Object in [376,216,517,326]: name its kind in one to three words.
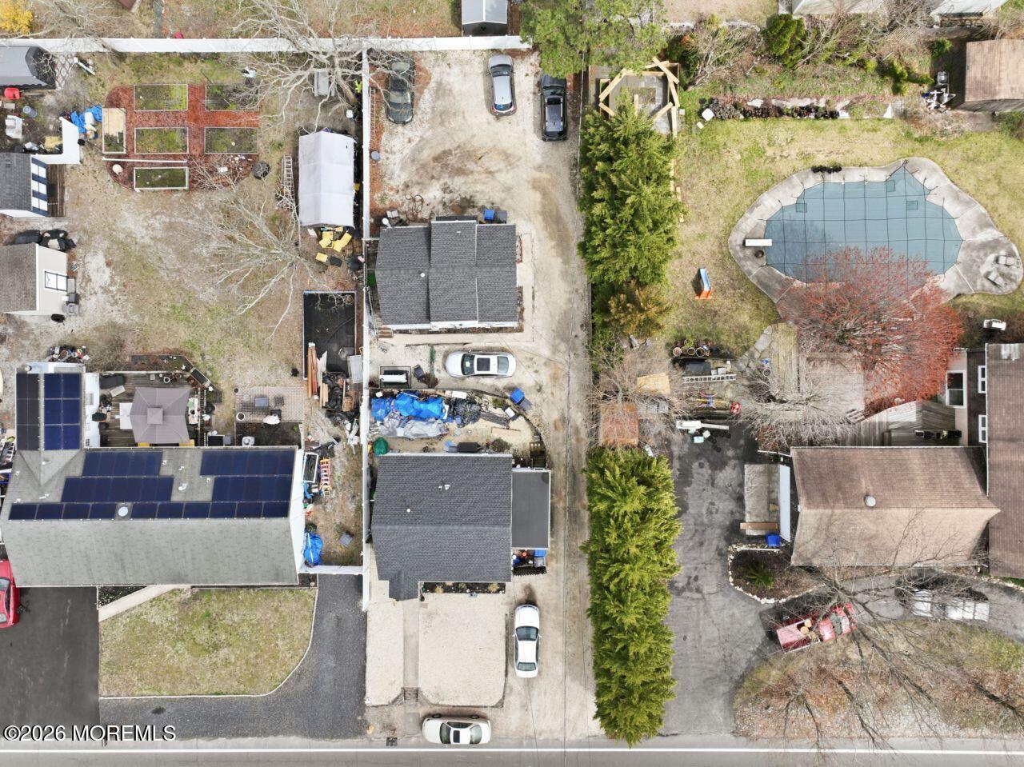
house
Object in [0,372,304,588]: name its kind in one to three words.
house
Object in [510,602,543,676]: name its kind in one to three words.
car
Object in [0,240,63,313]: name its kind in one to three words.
shed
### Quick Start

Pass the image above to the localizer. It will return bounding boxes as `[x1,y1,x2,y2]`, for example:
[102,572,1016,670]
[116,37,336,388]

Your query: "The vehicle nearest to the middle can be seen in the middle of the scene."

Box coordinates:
[446,348,517,381]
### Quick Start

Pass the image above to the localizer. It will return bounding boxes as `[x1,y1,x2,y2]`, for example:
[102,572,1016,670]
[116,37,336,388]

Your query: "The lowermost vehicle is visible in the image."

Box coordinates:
[423,710,491,748]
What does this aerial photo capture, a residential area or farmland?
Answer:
residential area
